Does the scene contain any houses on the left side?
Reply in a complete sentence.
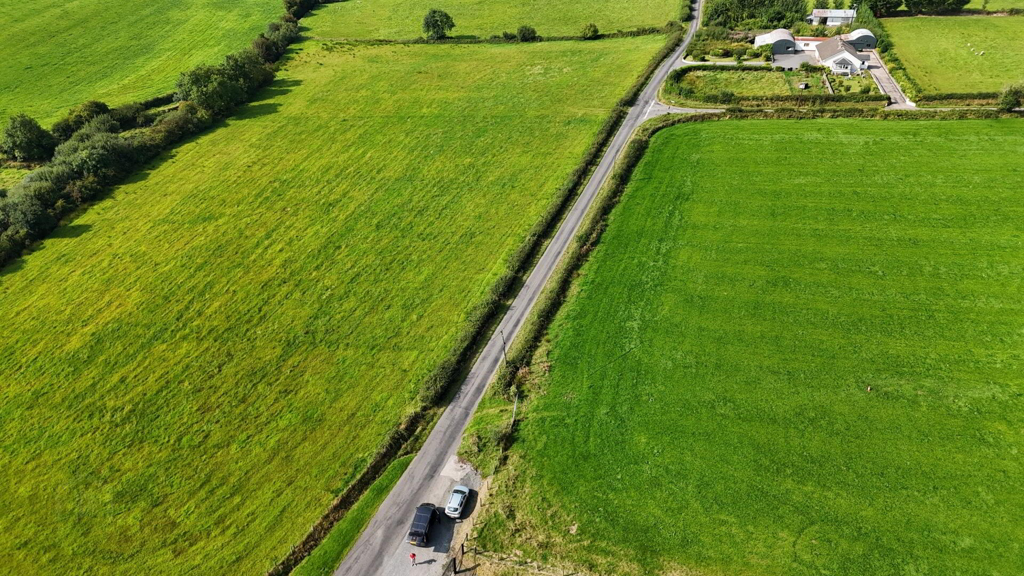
No, no house can be made out on the left side.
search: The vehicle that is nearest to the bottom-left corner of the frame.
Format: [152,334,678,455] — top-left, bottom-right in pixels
[404,503,438,545]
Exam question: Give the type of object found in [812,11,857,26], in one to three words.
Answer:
shed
